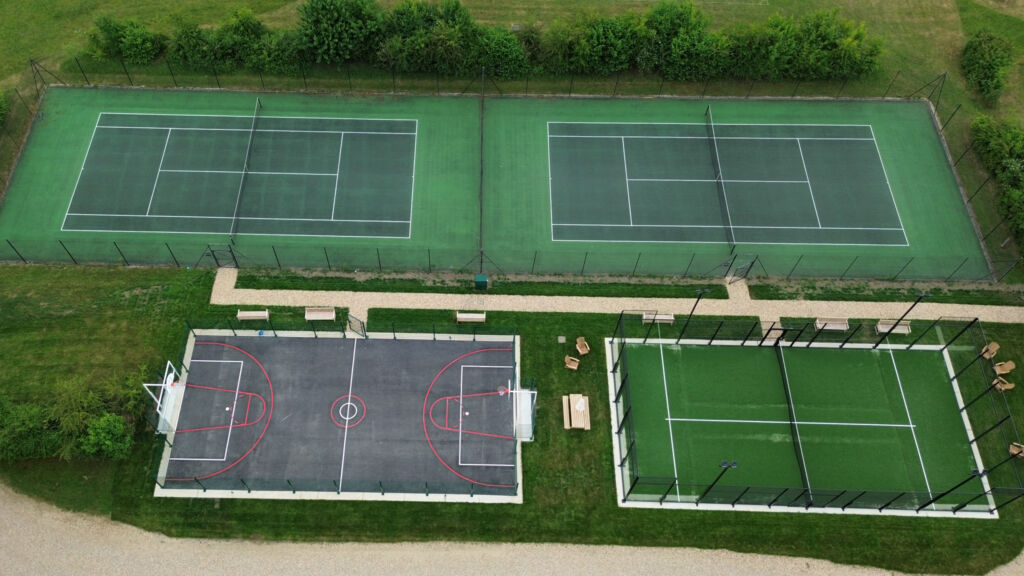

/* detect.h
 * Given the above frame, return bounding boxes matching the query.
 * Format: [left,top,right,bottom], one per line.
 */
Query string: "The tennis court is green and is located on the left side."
[0,86,482,272]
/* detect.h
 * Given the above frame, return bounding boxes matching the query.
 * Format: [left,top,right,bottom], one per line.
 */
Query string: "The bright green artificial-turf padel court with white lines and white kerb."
[607,337,1000,519]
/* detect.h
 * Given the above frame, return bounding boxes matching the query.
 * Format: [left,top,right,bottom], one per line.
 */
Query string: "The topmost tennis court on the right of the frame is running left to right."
[482,94,998,281]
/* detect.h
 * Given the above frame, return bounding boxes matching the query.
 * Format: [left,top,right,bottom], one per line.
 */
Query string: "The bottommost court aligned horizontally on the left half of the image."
[153,329,538,505]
